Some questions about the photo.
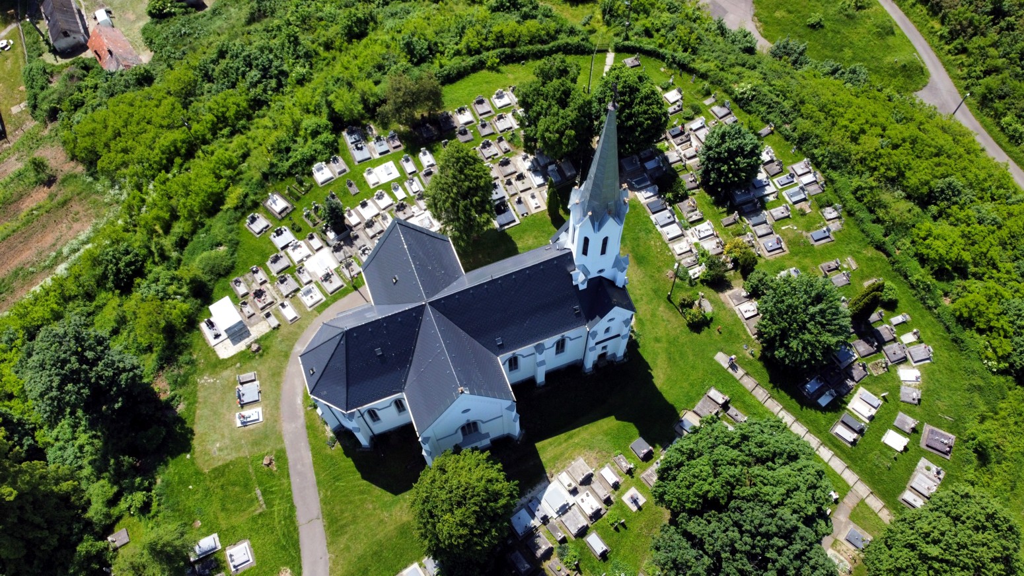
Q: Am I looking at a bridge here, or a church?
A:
church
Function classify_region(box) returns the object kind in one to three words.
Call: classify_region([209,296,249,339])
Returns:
house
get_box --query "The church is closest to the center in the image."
[299,74,640,474]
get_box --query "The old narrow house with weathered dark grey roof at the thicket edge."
[38,0,91,58]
